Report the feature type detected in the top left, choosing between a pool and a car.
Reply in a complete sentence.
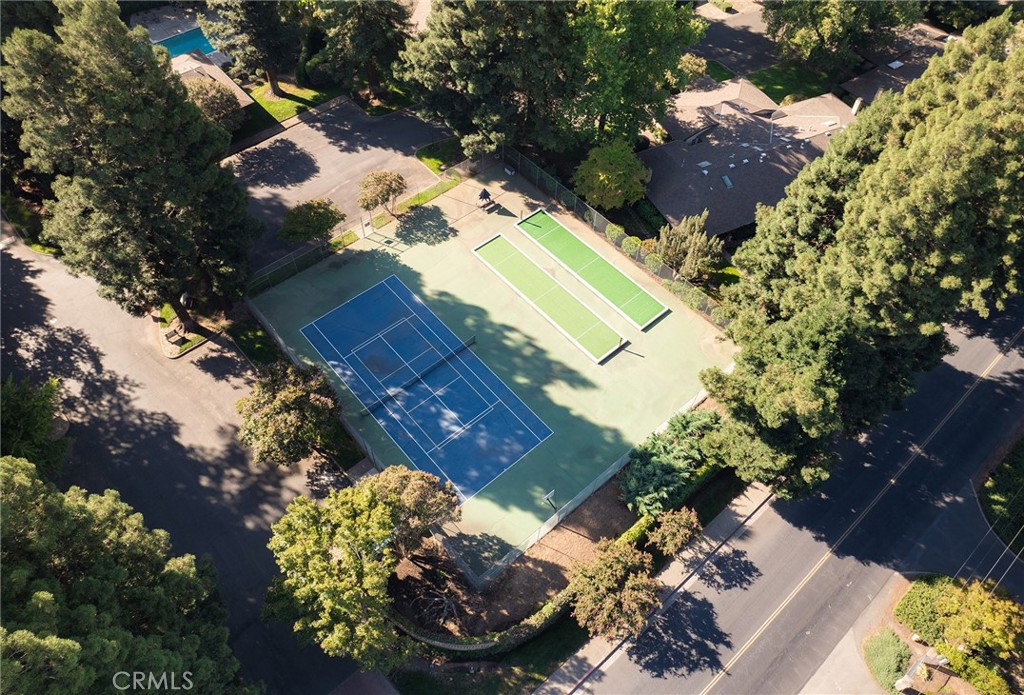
Visible in the top left is a pool.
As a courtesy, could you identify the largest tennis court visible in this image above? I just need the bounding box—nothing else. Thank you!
[242,165,730,587]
